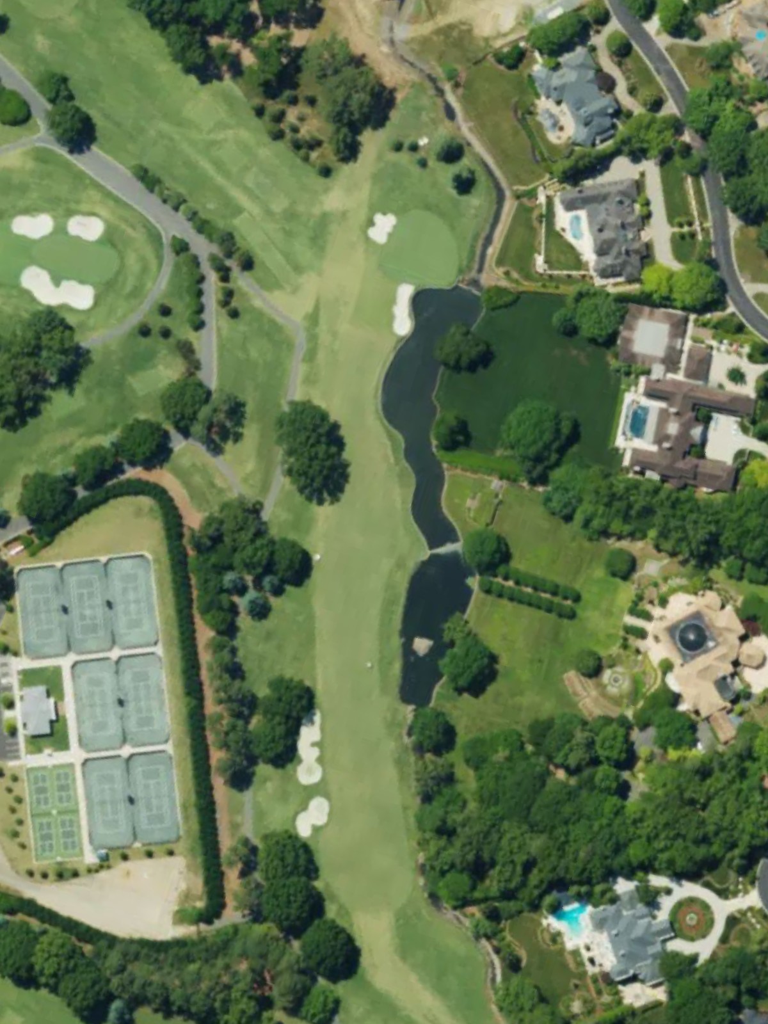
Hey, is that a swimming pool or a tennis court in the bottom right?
swimming pool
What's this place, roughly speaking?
golf course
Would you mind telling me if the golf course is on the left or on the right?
left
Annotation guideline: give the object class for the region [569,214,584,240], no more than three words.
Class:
swimming pool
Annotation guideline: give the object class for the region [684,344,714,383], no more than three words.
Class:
house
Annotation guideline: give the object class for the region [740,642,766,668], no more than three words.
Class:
gazebo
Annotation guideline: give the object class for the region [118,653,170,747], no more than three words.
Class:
tennis court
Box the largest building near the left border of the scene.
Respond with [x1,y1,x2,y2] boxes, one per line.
[20,685,56,736]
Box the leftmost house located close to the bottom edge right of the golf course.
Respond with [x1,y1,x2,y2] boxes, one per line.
[589,889,679,990]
